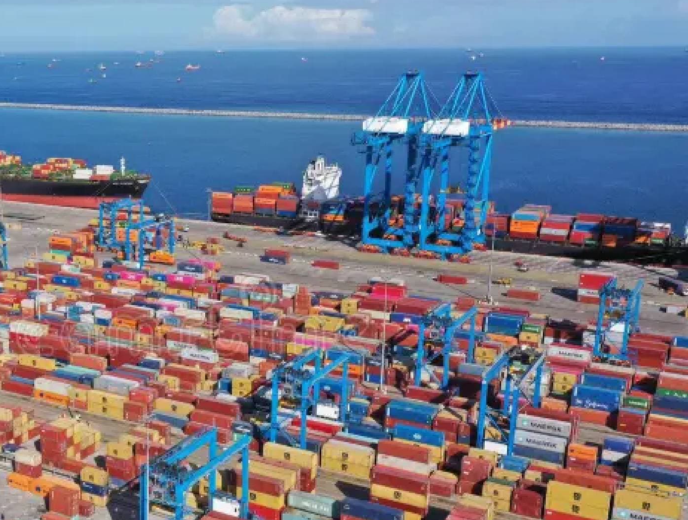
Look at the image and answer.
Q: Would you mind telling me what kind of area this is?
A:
port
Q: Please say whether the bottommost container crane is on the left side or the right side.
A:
left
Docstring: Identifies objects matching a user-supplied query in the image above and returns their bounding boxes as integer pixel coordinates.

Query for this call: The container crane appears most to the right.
[582,272,644,356]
